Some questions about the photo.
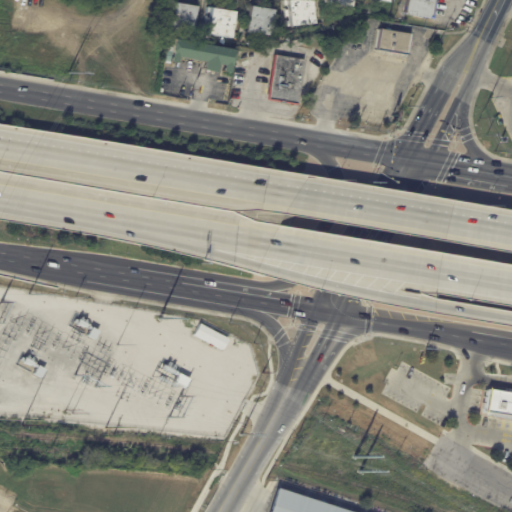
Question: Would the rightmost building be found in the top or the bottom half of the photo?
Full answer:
The rightmost building is in the bottom half of the image.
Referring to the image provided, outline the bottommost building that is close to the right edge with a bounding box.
[482,384,512,418]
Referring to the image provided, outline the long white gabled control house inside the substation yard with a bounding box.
[193,322,229,350]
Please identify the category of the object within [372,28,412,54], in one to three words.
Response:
building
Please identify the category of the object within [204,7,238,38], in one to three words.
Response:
house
